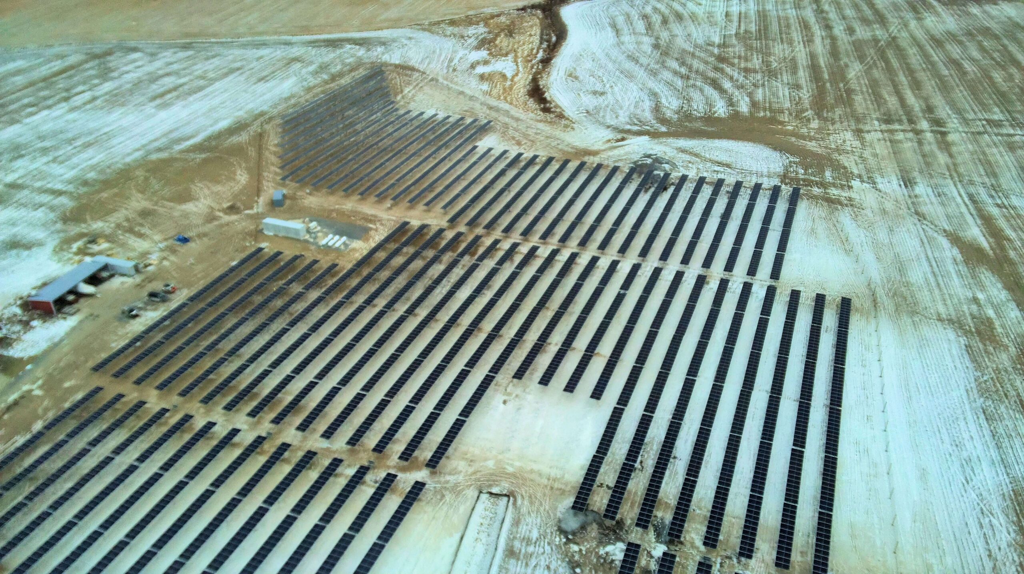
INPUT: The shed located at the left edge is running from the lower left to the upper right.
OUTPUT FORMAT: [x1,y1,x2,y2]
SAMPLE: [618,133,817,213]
[27,262,112,314]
